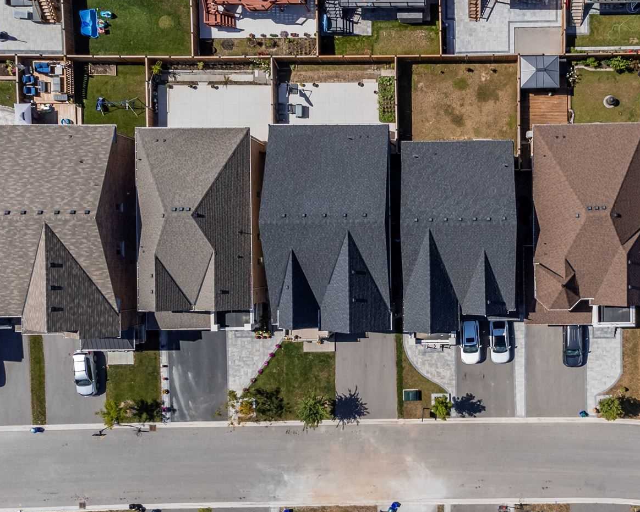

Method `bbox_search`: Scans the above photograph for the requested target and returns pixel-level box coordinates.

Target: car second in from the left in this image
[459,319,482,363]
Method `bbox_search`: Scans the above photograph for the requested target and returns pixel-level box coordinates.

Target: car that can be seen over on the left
[72,351,99,396]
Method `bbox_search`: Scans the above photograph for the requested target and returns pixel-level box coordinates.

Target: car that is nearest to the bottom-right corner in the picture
[562,325,586,367]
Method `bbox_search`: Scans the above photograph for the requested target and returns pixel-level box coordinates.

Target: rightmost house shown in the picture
[525,121,640,326]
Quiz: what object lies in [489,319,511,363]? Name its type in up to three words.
car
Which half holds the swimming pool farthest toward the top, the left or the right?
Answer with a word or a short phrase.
left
